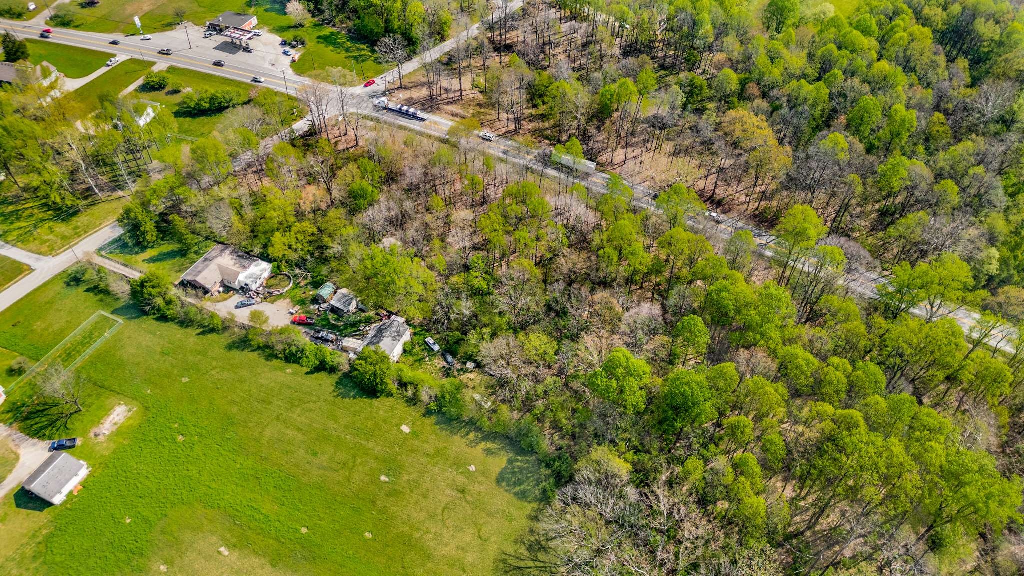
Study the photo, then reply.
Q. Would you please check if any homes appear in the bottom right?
No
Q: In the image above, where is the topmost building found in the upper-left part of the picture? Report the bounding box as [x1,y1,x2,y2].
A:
[210,11,255,33]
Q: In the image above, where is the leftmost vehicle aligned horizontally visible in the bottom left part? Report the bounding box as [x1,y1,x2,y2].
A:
[48,437,79,451]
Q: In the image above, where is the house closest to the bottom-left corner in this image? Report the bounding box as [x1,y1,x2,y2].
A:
[20,450,93,507]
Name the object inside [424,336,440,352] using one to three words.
car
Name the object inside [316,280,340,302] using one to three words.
shed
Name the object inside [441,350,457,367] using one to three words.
car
